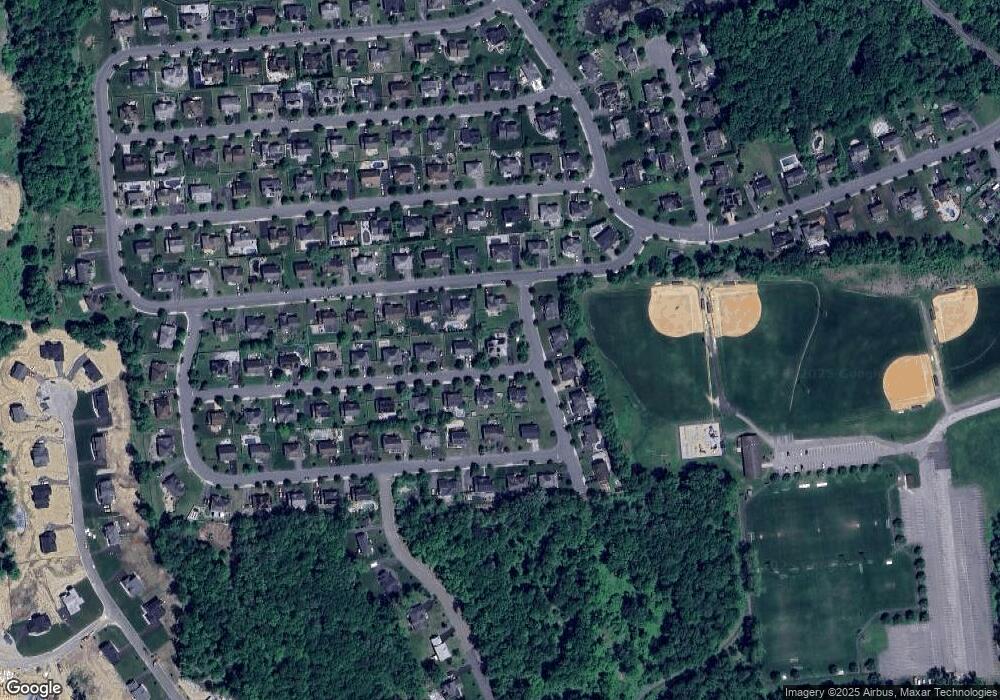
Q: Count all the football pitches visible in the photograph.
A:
2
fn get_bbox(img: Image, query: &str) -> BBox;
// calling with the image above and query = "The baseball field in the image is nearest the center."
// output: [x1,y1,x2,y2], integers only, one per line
[587,280,713,425]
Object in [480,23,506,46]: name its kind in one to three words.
house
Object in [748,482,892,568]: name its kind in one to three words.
soccer field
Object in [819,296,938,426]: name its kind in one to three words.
baseball field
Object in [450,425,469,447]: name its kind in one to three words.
house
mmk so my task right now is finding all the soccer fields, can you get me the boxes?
[758,551,915,672]
[748,482,892,568]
